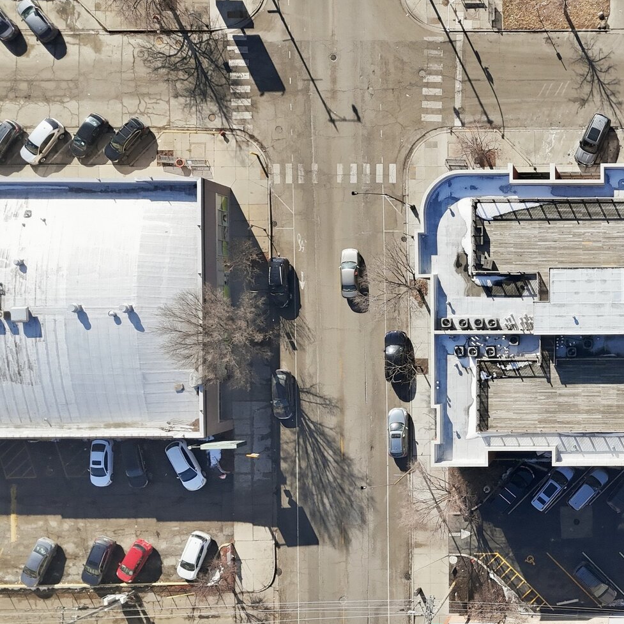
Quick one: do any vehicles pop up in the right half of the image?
Yes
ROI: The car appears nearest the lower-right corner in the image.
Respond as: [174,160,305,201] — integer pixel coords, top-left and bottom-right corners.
[572,558,619,608]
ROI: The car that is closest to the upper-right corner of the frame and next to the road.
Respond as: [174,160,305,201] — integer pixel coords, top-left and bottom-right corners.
[577,114,611,166]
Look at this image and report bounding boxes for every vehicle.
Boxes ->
[386,329,411,383]
[266,256,293,308]
[529,467,575,513]
[120,537,155,582]
[121,437,153,489]
[165,437,208,491]
[18,0,62,47]
[72,110,113,163]
[577,114,611,166]
[81,535,117,586]
[565,467,610,514]
[572,558,619,608]
[0,1,28,52]
[25,117,66,165]
[384,407,410,458]
[337,248,362,298]
[486,465,535,514]
[0,115,32,165]
[87,437,117,489]
[178,529,213,580]
[23,534,60,587]
[105,114,150,165]
[269,368,296,419]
